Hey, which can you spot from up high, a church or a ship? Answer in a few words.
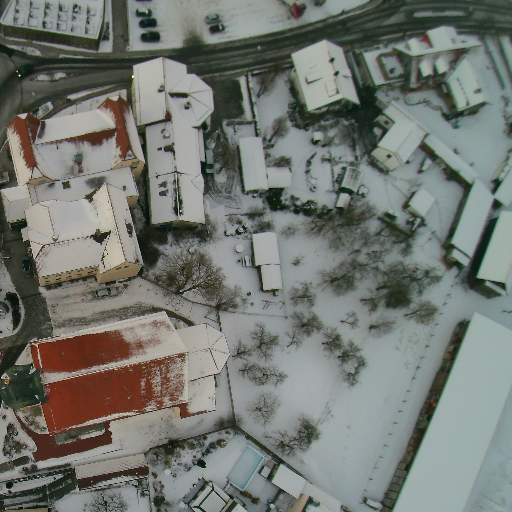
church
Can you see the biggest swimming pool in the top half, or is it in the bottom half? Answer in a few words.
bottom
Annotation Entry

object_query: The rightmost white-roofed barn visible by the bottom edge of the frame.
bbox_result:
[388,313,512,512]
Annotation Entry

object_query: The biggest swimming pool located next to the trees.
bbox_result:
[227,445,270,489]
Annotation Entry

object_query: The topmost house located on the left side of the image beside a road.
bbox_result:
[133,57,214,137]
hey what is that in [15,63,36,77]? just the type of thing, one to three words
vehicle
